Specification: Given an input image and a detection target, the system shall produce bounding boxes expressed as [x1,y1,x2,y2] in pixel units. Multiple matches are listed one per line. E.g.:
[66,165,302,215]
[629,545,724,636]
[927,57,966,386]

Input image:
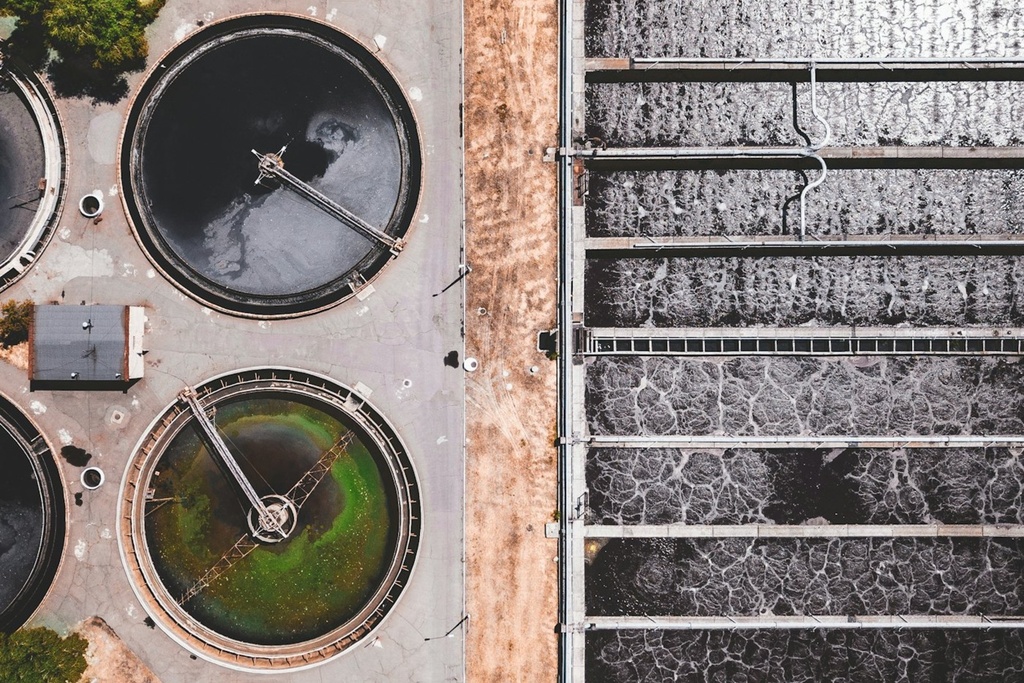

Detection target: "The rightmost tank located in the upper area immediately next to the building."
[118,12,424,317]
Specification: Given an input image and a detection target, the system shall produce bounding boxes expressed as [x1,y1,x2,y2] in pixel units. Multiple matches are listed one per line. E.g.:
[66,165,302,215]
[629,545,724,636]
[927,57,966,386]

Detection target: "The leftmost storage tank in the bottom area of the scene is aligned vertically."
[0,392,67,642]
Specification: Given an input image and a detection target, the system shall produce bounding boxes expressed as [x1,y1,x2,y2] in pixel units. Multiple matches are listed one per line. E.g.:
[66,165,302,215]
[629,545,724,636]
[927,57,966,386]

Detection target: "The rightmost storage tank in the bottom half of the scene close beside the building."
[118,367,424,672]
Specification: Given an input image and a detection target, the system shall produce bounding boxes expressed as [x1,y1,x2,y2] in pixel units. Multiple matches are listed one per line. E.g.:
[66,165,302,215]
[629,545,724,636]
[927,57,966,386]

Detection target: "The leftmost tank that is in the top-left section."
[0,38,68,292]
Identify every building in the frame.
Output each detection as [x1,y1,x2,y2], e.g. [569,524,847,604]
[27,304,145,381]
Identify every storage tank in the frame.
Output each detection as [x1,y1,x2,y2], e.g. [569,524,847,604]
[118,12,424,317]
[118,367,424,672]
[0,392,67,642]
[0,38,68,292]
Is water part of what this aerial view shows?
Yes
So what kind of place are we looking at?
industrial area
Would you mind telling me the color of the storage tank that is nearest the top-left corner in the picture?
white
